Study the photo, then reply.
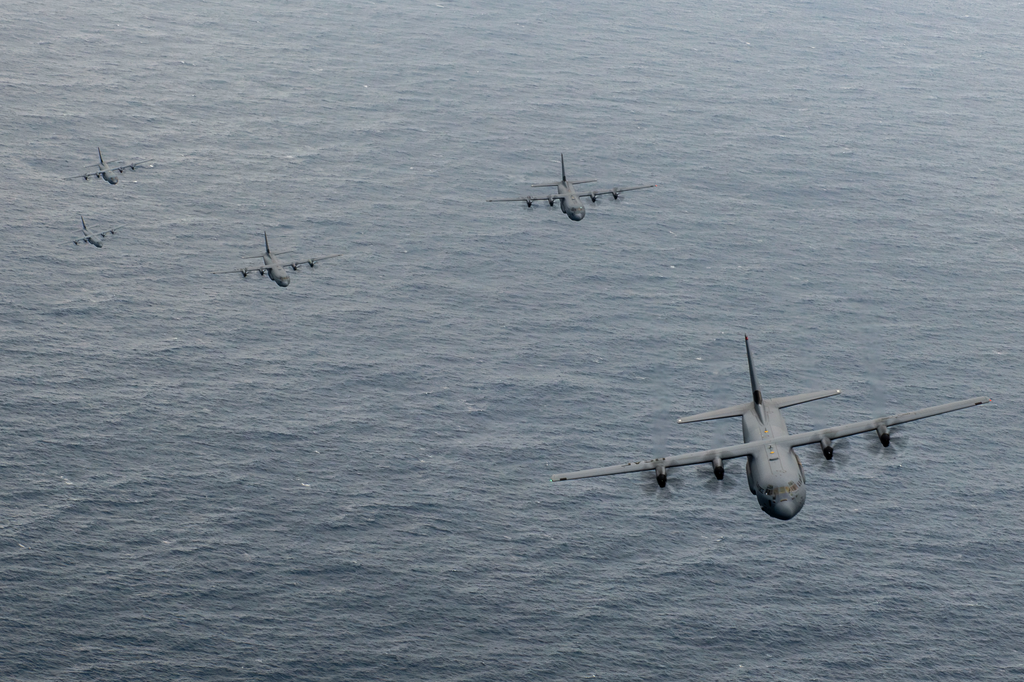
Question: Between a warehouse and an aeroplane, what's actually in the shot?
aeroplane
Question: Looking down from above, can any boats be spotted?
No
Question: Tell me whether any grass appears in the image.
No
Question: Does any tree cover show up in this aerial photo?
No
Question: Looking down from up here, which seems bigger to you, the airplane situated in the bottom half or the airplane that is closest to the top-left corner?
the airplane situated in the bottom half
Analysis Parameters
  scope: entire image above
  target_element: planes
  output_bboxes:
[56,215,128,247]
[485,153,656,221]
[61,146,153,184]
[209,230,342,287]
[550,331,990,521]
